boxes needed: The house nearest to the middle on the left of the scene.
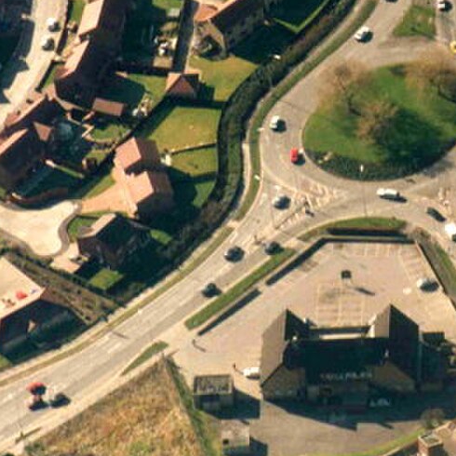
[125,168,176,218]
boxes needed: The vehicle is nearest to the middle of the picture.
[224,247,242,261]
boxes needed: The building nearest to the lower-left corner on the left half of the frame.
[0,289,72,358]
